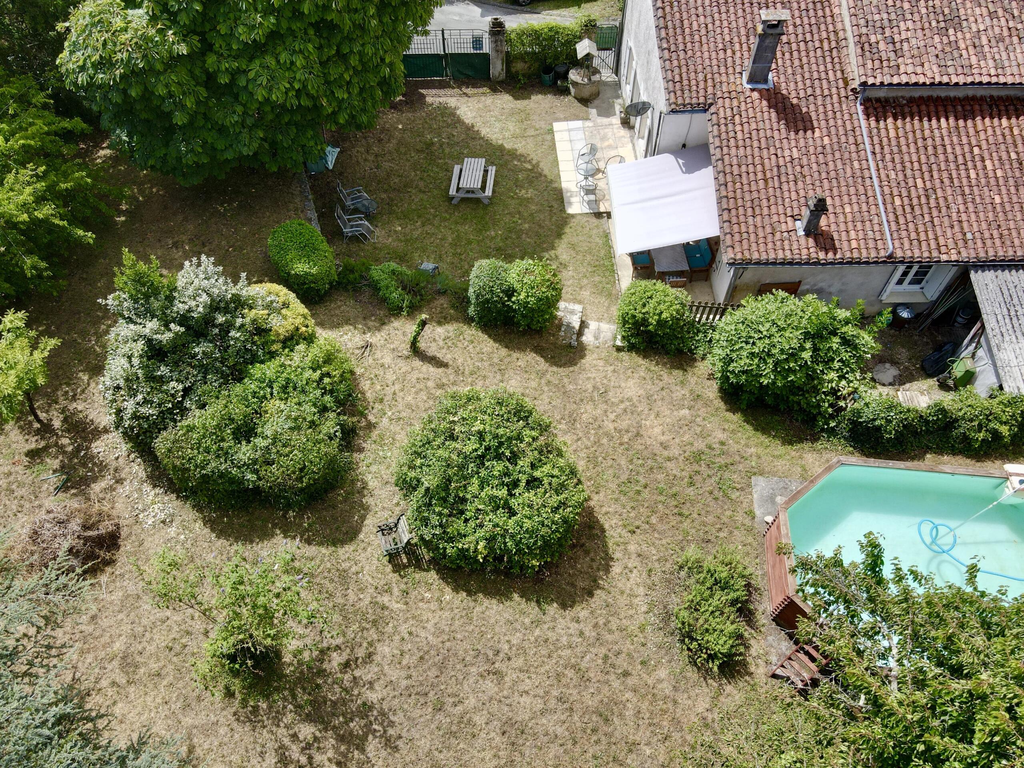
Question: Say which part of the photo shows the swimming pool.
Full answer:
You can find the swimming pool in the bottom right area of the picture.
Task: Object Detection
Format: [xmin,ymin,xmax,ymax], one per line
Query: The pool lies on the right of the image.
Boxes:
[767,454,1024,690]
